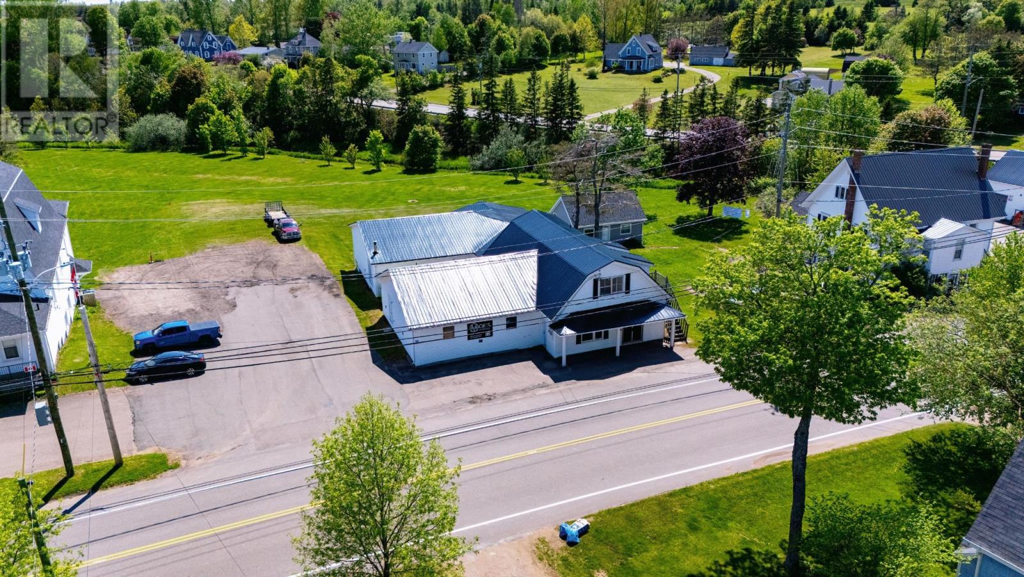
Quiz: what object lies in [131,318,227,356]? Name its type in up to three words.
truck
